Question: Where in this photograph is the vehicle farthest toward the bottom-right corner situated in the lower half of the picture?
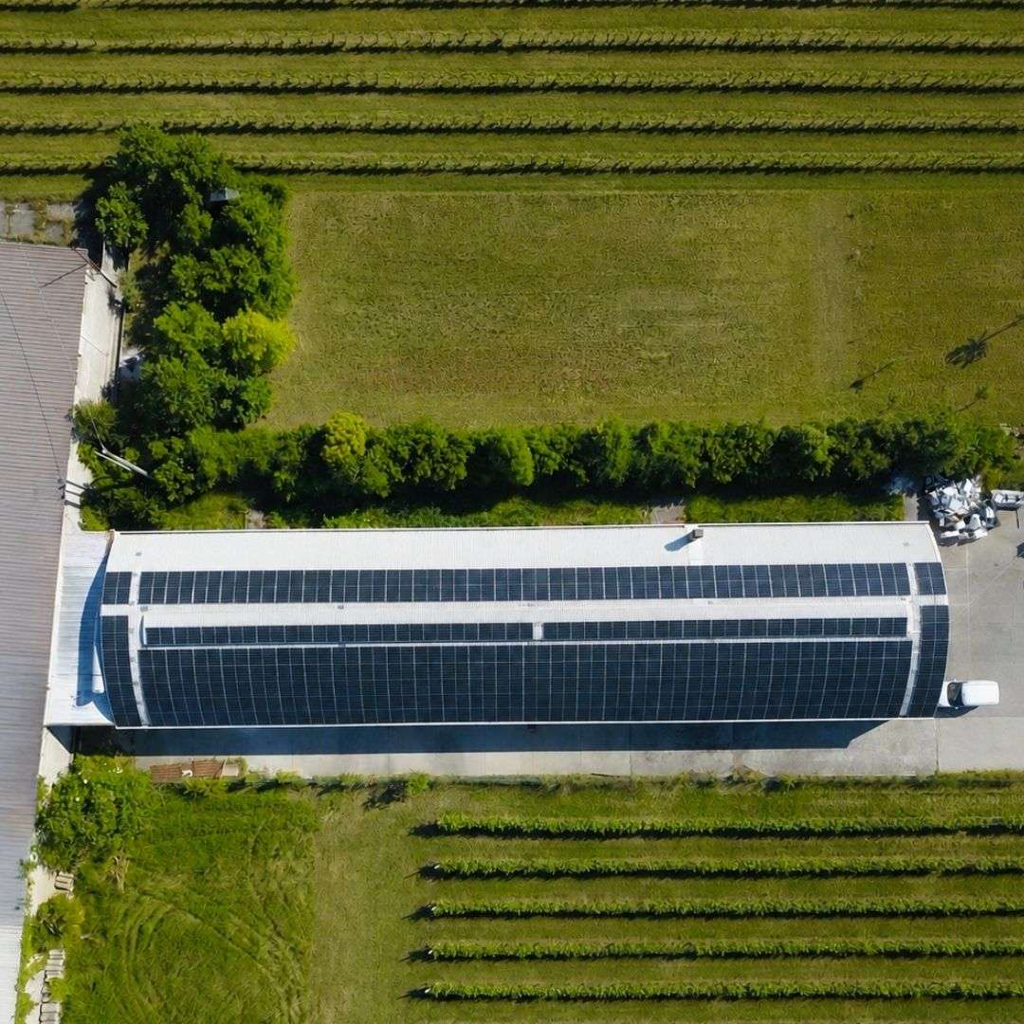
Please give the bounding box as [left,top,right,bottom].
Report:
[938,675,997,711]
